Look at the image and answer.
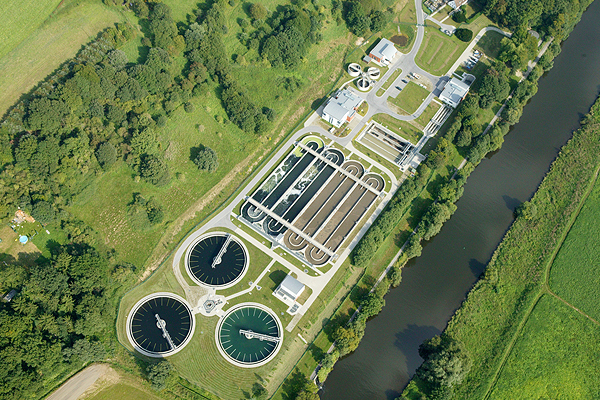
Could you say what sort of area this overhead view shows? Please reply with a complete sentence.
This image shows an industrial area.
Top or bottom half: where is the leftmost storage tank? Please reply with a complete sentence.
The bottom half of the photo is where the leftmost storage tank is.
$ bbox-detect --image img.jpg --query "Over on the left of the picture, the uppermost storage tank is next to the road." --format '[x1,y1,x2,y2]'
[185,231,251,290]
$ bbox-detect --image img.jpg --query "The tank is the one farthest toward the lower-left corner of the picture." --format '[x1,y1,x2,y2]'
[126,292,196,358]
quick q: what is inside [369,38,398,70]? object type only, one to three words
building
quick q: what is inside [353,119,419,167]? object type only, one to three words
storage tank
